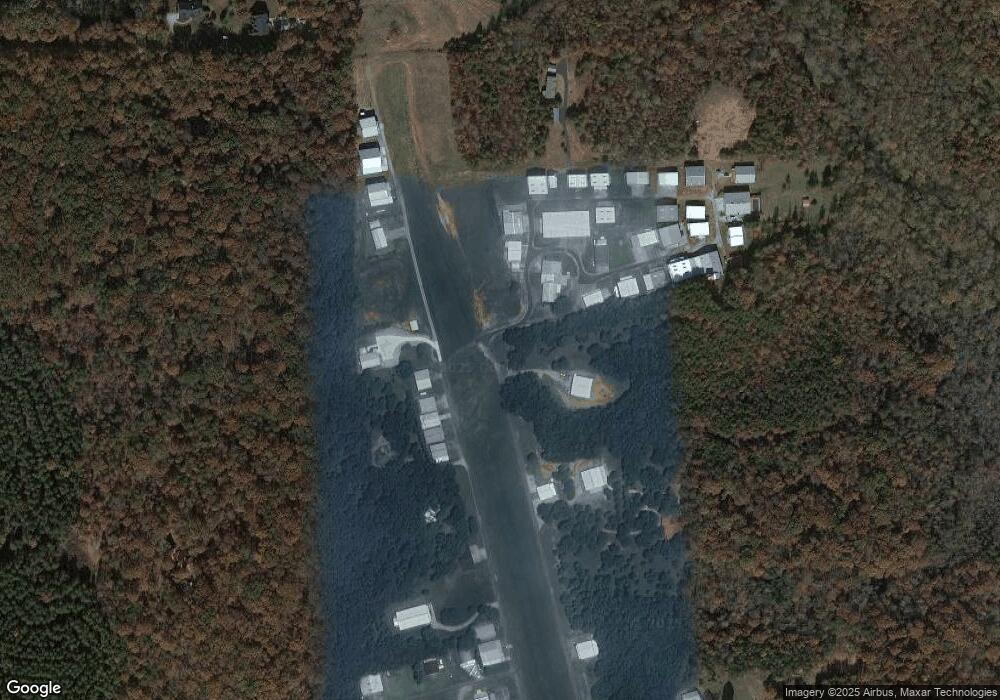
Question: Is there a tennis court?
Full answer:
No, I can't see a single tennis court in this photo.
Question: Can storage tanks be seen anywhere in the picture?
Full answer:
No, the picture doesn't show any storage tank.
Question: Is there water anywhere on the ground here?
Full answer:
No, the picture contains no water.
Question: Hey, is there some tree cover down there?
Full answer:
Yes, there's tree cover in this view.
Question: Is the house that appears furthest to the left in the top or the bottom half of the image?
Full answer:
The house that appears furthest to the left sits in the top half of the picture.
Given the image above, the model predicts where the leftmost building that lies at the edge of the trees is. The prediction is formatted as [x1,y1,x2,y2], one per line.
[179,1,206,21]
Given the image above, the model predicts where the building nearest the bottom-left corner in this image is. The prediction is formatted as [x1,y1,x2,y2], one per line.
[360,675,383,695]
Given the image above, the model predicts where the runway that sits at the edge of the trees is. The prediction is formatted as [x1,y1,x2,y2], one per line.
[378,63,577,700]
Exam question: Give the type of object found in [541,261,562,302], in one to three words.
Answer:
house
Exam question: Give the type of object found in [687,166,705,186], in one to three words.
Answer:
hangar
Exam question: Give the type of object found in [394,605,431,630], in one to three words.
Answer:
barn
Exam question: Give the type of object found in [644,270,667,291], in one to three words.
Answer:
hangar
